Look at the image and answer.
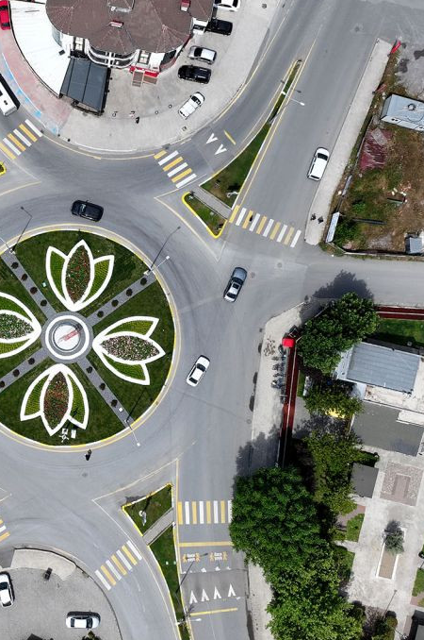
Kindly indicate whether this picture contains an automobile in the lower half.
Yes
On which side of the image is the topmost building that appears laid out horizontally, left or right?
left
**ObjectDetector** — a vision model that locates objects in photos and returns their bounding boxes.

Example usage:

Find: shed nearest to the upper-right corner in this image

[379,95,424,132]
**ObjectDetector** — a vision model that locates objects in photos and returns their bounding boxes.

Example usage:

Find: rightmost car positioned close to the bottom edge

[65,611,99,629]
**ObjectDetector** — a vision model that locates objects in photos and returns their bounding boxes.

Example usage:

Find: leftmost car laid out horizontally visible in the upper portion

[71,202,104,220]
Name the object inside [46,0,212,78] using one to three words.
building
